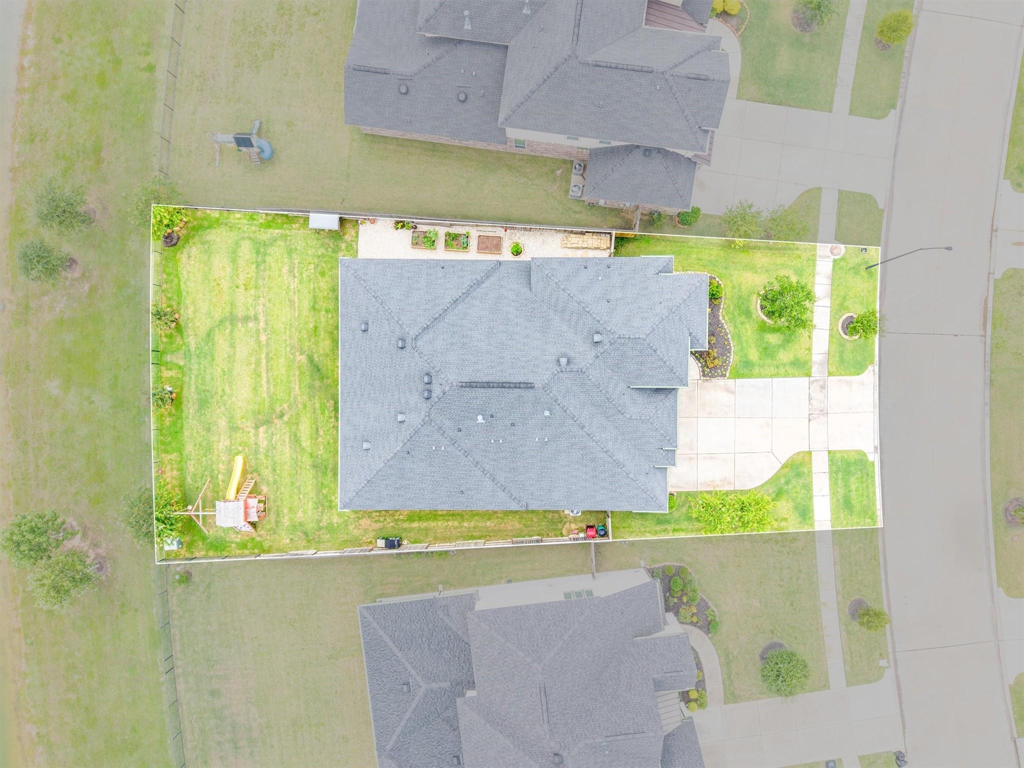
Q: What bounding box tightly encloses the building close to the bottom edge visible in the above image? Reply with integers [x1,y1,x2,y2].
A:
[356,564,703,768]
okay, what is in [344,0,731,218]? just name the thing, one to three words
house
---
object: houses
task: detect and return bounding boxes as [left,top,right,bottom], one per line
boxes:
[337,255,710,514]
[356,564,703,768]
[344,0,731,218]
